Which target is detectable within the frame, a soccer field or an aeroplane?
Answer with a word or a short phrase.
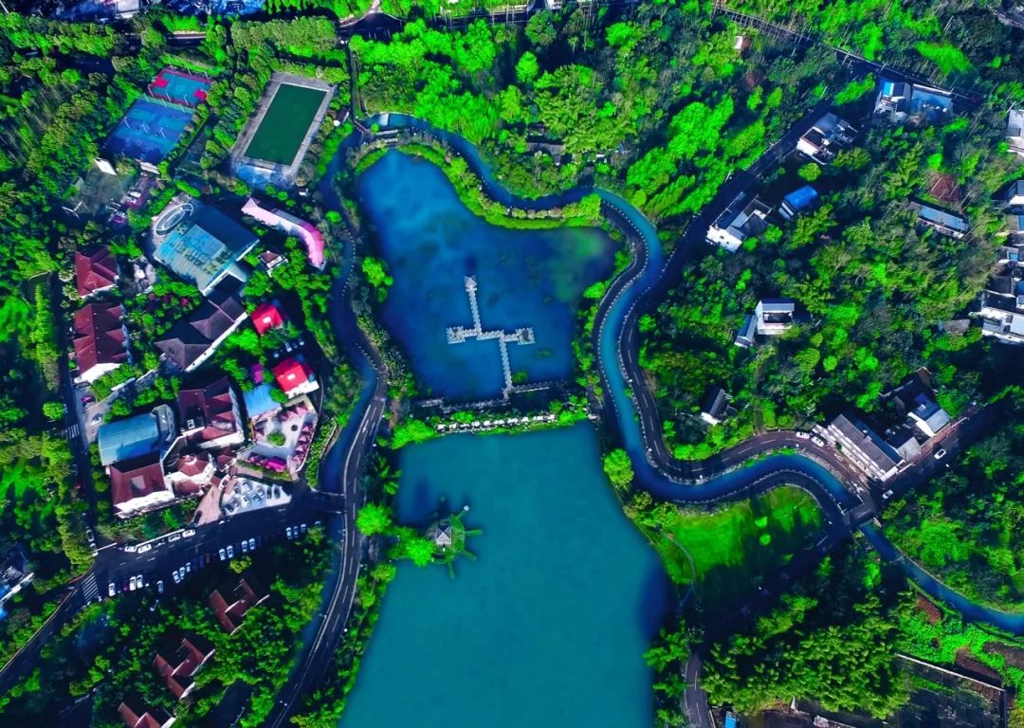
soccer field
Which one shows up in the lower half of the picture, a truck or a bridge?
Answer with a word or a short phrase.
bridge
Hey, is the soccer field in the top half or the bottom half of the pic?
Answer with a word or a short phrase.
top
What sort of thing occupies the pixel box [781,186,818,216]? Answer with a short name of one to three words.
house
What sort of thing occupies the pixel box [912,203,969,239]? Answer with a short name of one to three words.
shed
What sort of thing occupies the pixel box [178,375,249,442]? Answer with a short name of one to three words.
building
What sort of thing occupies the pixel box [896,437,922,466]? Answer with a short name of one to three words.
building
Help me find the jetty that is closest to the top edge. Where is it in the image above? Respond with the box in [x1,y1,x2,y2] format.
[447,290,535,390]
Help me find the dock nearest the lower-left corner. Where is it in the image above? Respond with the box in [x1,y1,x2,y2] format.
[441,499,481,577]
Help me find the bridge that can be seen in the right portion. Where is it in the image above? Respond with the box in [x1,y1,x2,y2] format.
[829,494,884,538]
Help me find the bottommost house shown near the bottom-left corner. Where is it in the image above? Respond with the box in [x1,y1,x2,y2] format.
[118,693,179,728]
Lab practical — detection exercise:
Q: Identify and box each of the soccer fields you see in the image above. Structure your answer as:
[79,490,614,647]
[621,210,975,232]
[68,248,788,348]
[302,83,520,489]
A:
[232,72,335,177]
